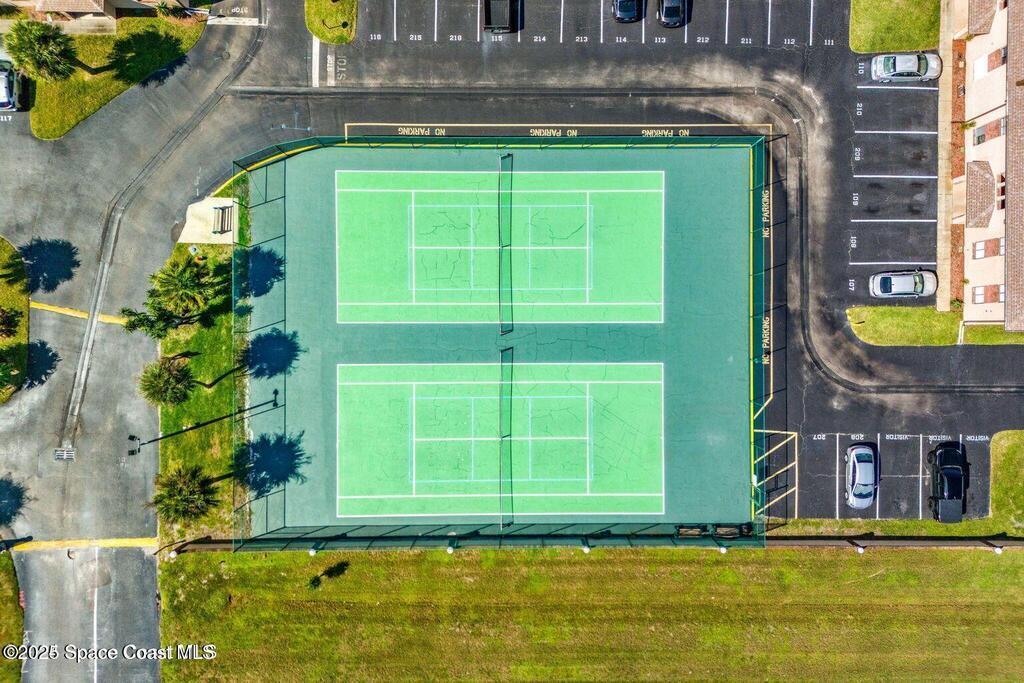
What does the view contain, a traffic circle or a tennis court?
tennis court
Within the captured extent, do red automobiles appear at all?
No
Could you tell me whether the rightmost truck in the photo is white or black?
black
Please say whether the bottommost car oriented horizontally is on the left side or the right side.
right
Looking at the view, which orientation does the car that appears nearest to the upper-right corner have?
horizontally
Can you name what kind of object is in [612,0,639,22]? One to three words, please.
car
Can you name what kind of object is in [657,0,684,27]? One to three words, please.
car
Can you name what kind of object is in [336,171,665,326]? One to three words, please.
tennis court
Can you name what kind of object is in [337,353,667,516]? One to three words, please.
tennis court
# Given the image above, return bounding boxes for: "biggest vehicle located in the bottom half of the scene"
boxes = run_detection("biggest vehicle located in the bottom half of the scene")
[926,445,970,523]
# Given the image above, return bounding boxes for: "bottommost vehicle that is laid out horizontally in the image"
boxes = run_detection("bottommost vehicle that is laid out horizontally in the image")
[869,269,935,299]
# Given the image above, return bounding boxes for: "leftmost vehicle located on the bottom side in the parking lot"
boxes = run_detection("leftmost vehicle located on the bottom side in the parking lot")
[843,445,877,509]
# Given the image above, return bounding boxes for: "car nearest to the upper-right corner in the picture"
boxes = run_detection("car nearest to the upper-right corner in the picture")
[872,50,940,83]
